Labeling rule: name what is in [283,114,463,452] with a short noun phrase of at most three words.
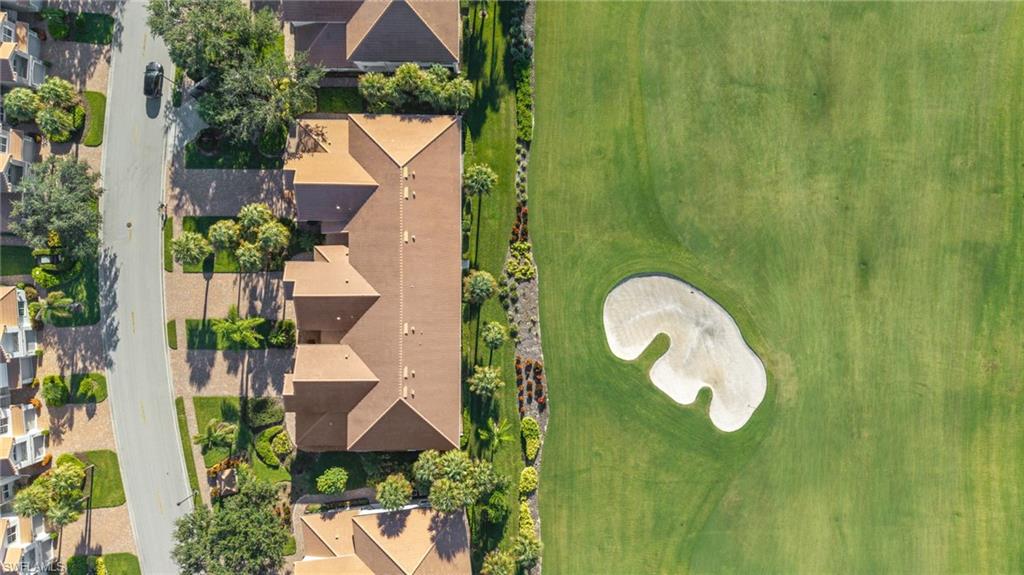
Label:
house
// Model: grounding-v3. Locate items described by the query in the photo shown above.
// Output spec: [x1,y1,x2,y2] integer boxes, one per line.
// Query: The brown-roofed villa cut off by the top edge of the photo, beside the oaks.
[279,0,460,75]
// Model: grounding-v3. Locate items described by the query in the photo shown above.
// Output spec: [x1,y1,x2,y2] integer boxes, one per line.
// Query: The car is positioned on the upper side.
[145,63,164,99]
